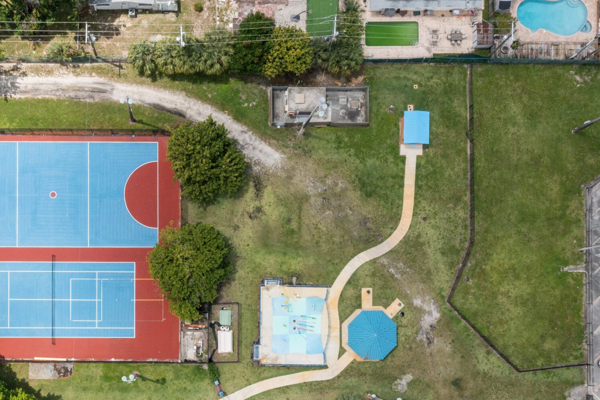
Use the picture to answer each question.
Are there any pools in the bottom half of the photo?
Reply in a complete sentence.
No, no pool can be made out in the bottom half of the photo.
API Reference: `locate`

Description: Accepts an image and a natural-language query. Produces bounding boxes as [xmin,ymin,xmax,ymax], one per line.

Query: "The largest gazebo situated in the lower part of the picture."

[342,306,397,361]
